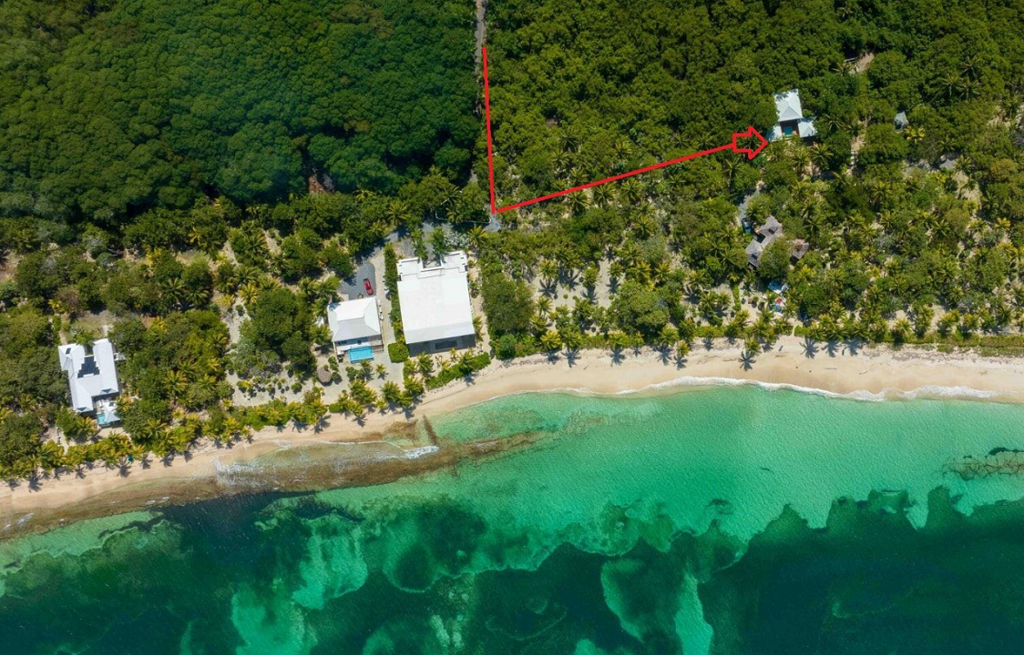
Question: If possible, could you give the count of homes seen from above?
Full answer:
My tally gives 5 homes in this view.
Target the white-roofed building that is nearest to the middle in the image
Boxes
[397,251,476,357]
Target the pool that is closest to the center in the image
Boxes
[348,346,375,363]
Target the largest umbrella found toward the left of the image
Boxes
[317,367,333,383]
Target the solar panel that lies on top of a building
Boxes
[78,356,100,378]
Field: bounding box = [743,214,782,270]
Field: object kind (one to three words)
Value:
house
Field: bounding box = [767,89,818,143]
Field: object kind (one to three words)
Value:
house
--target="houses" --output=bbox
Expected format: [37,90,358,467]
[327,297,381,341]
[397,251,476,357]
[767,89,818,143]
[59,339,124,412]
[743,214,782,270]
